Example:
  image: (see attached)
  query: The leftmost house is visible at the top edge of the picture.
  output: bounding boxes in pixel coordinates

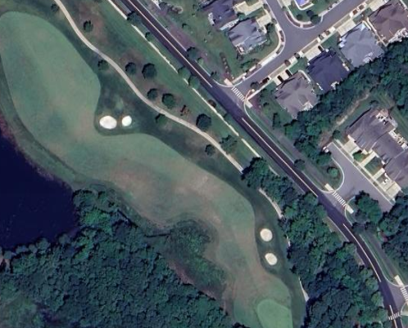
[203,0,236,28]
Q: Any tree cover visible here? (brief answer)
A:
Yes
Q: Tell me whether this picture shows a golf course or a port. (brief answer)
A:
golf course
